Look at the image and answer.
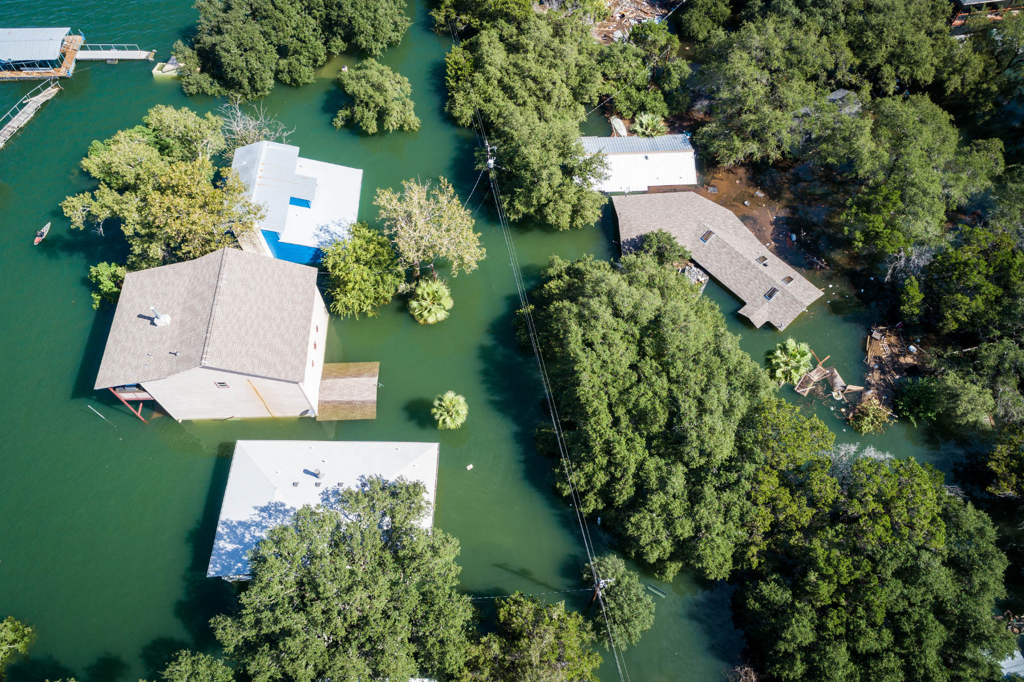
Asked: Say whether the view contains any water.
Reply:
Yes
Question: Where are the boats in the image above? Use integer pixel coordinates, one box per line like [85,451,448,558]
[33,221,50,244]
[610,116,627,136]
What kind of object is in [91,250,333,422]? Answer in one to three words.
house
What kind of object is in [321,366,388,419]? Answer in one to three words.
building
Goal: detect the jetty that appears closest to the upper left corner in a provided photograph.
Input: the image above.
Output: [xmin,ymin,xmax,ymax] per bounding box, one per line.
[0,23,84,81]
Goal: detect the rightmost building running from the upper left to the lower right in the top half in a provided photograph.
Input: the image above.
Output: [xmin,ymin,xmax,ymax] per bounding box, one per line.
[611,185,825,332]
